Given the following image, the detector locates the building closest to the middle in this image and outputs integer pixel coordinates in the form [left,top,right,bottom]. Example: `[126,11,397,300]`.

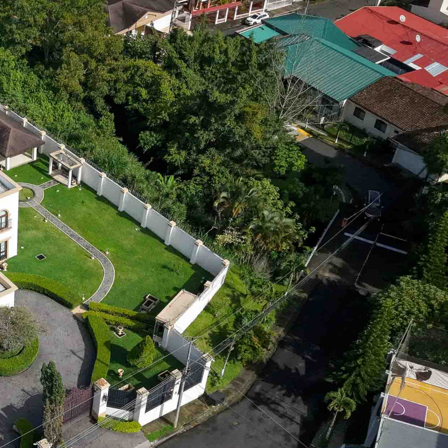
[154,289,199,352]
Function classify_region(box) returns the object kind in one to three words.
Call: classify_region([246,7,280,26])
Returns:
car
